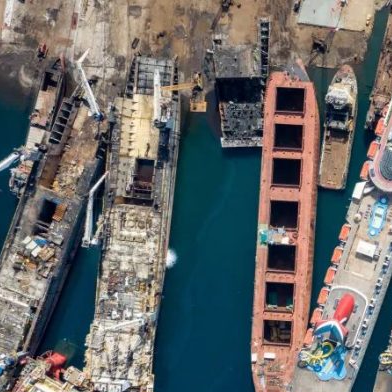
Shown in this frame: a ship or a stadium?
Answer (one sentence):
The one in the frame is a ship.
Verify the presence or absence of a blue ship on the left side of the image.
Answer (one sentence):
No, no blue ship can be made out on the left side of the image.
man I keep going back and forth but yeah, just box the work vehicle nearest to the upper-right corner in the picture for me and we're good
[302,39,324,68]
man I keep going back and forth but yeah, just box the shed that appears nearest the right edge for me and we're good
[339,0,376,33]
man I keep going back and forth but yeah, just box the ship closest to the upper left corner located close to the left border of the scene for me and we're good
[12,51,69,196]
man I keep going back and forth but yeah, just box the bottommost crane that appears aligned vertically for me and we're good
[81,170,113,248]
